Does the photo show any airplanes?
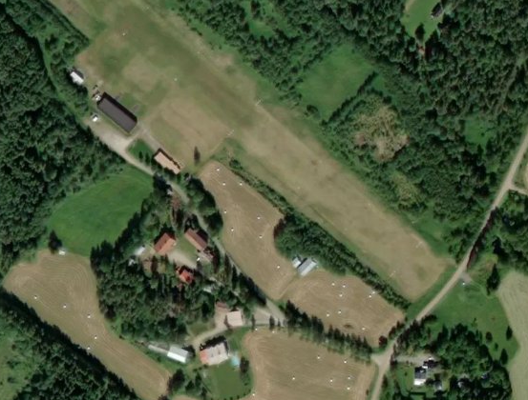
No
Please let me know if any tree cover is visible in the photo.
Yes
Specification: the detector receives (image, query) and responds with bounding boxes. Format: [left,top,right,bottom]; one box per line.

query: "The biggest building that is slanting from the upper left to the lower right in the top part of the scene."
[98,98,137,132]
